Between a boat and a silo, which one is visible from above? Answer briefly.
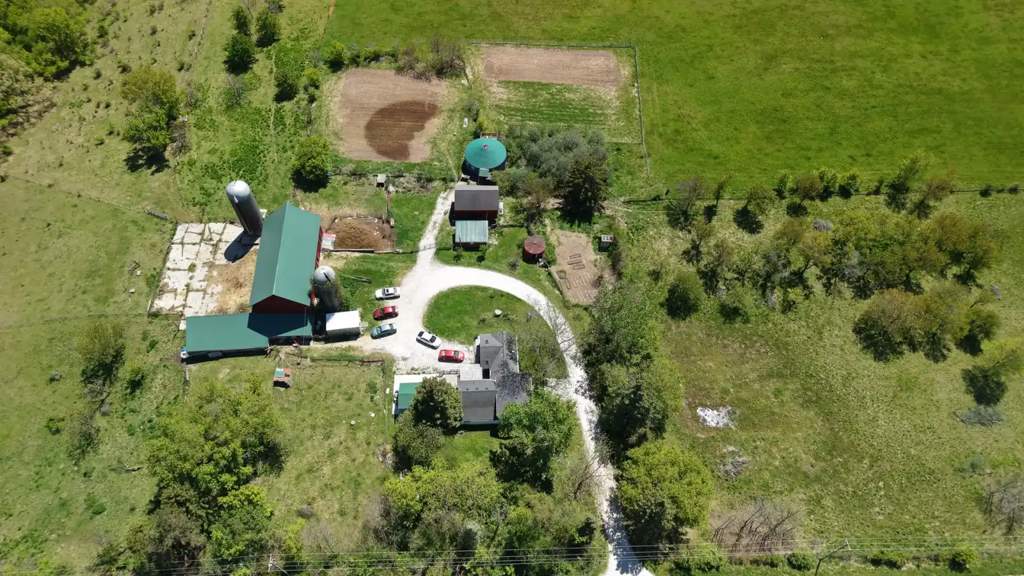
silo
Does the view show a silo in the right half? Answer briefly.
No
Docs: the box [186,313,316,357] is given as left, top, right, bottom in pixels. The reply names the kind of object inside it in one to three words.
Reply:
shed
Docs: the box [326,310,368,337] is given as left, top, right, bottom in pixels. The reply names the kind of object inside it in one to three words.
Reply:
building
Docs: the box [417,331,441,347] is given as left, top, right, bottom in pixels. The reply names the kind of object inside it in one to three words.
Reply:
car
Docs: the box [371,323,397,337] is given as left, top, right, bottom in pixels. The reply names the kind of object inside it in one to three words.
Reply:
car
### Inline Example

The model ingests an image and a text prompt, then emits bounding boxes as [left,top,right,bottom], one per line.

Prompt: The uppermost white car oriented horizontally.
[375,288,400,301]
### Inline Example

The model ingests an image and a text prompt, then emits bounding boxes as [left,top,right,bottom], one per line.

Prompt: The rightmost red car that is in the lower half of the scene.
[439,349,465,361]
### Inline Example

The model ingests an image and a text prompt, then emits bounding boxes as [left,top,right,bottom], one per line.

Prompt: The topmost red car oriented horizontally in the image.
[373,306,398,319]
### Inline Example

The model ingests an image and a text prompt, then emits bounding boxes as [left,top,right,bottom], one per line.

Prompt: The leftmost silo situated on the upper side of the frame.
[225,181,264,238]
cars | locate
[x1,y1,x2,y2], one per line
[373,306,398,319]
[417,331,441,347]
[439,349,465,361]
[375,288,400,301]
[371,323,397,337]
